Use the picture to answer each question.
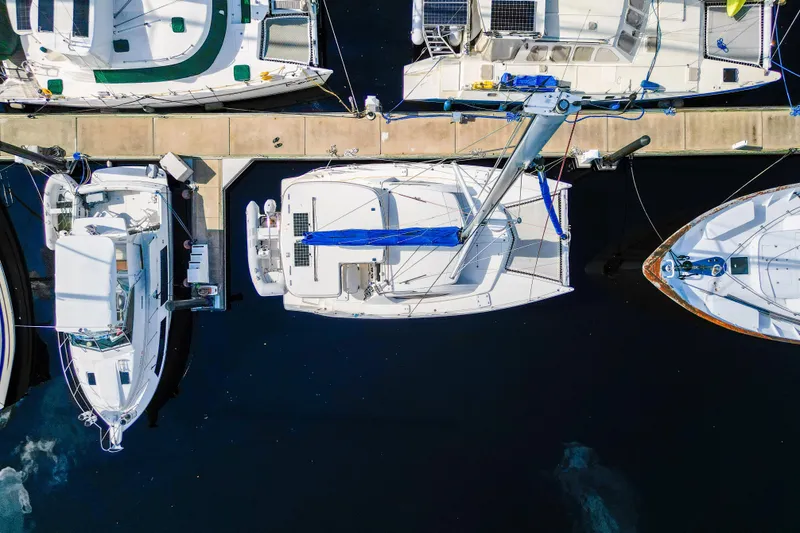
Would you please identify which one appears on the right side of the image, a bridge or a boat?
boat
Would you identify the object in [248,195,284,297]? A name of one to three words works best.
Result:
boat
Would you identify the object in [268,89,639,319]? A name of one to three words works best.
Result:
boat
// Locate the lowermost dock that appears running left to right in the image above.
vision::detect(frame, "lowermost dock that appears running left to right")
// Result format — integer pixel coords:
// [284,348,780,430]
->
[0,106,800,188]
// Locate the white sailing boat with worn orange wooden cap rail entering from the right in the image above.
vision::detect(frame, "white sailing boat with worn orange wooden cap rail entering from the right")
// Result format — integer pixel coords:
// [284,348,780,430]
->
[639,182,800,343]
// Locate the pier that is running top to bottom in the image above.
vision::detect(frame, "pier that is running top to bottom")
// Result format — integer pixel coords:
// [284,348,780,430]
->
[192,158,230,309]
